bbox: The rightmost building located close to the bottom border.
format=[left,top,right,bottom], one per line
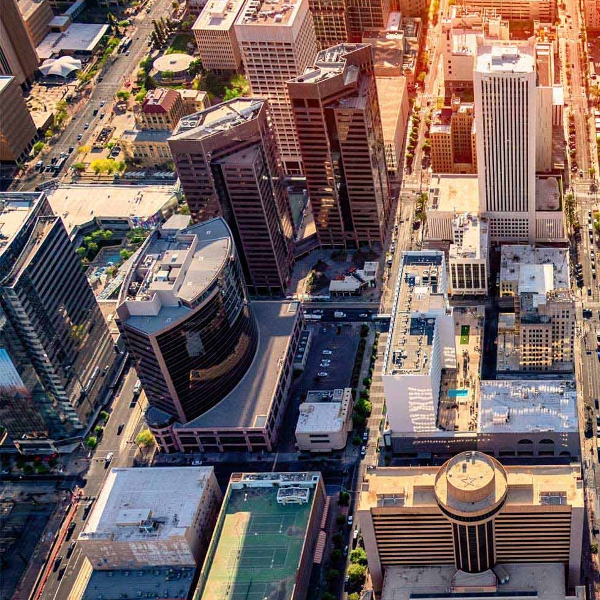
[357,452,587,600]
